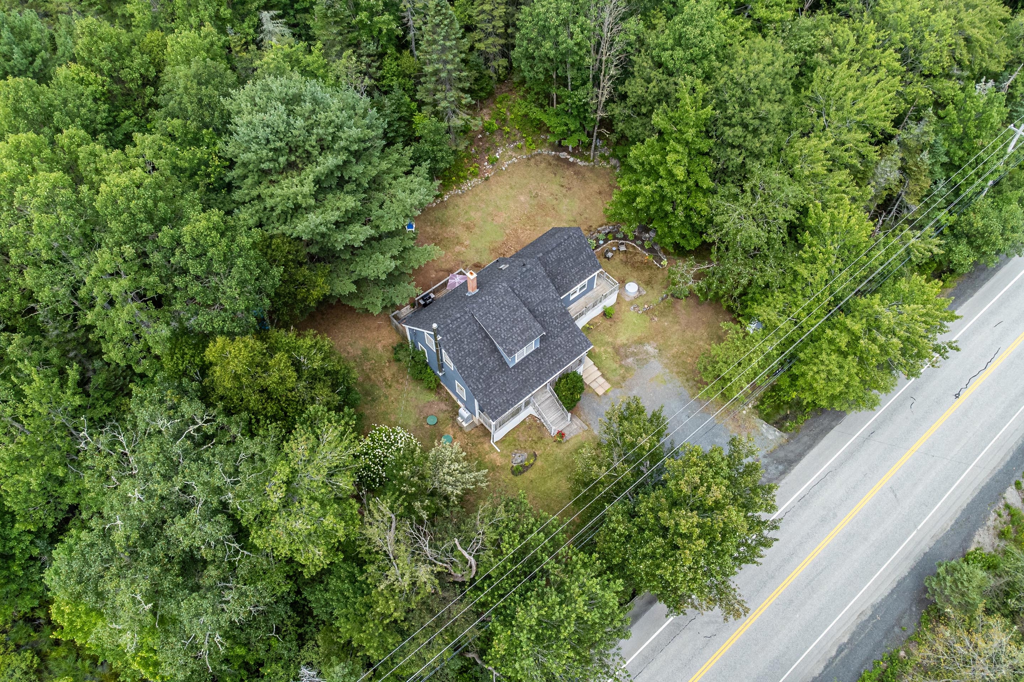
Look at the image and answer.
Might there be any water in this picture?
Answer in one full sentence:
No, the scene doesn't show any water.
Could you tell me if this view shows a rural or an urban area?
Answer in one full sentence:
The area is rural.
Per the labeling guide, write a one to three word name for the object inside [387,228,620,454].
house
